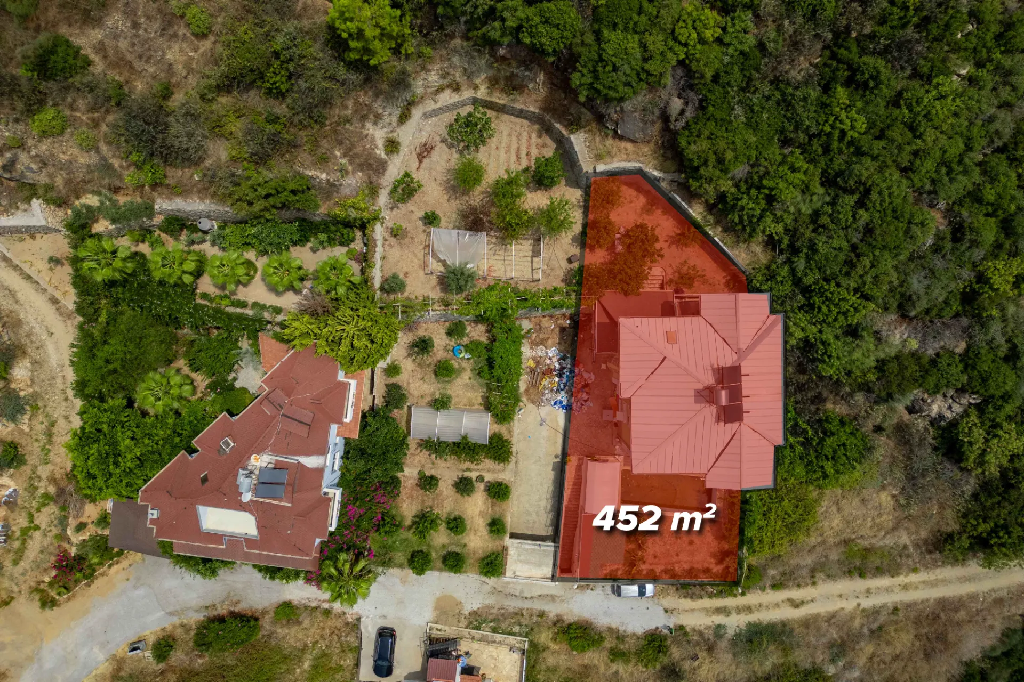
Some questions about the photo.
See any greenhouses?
Yes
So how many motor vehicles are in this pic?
2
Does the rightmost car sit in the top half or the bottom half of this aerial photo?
bottom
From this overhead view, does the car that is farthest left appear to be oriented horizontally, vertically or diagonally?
vertically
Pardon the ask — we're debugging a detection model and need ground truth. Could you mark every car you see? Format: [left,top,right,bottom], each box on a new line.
[610,579,655,605]
[371,623,398,676]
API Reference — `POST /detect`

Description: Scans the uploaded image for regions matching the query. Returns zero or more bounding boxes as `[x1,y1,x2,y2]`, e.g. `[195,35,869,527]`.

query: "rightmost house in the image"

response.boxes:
[612,291,788,490]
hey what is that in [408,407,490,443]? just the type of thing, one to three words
greenhouse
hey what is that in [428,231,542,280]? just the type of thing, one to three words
greenhouse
